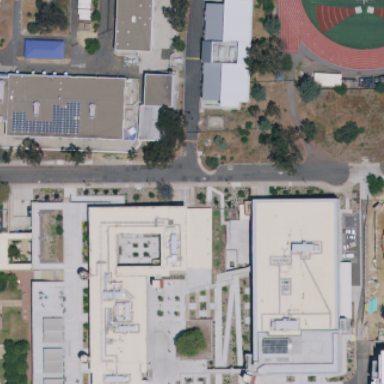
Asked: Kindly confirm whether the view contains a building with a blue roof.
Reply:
Yes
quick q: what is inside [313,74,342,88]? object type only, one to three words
shed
